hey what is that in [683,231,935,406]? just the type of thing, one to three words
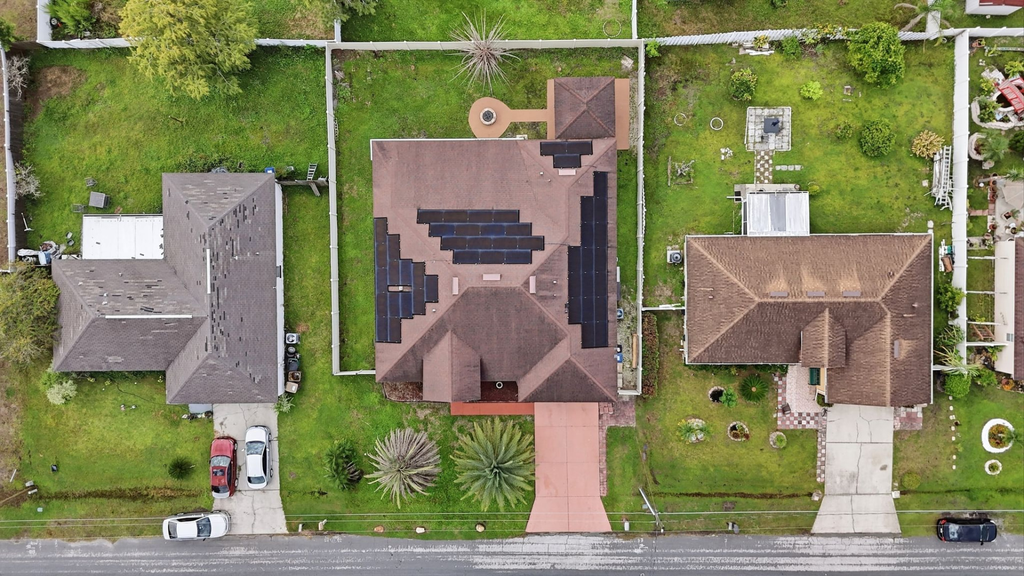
house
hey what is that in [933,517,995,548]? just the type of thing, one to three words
car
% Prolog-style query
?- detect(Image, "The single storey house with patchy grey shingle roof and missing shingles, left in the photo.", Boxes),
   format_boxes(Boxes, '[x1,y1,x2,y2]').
[51,172,286,405]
